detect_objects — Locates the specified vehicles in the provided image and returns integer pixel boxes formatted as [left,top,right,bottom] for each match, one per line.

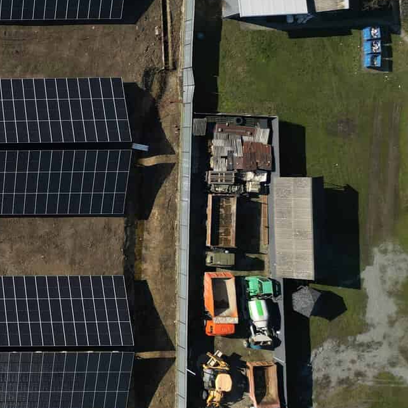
[200,271,239,337]
[241,358,283,408]
[200,350,237,408]
[239,271,278,345]
[203,193,240,268]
